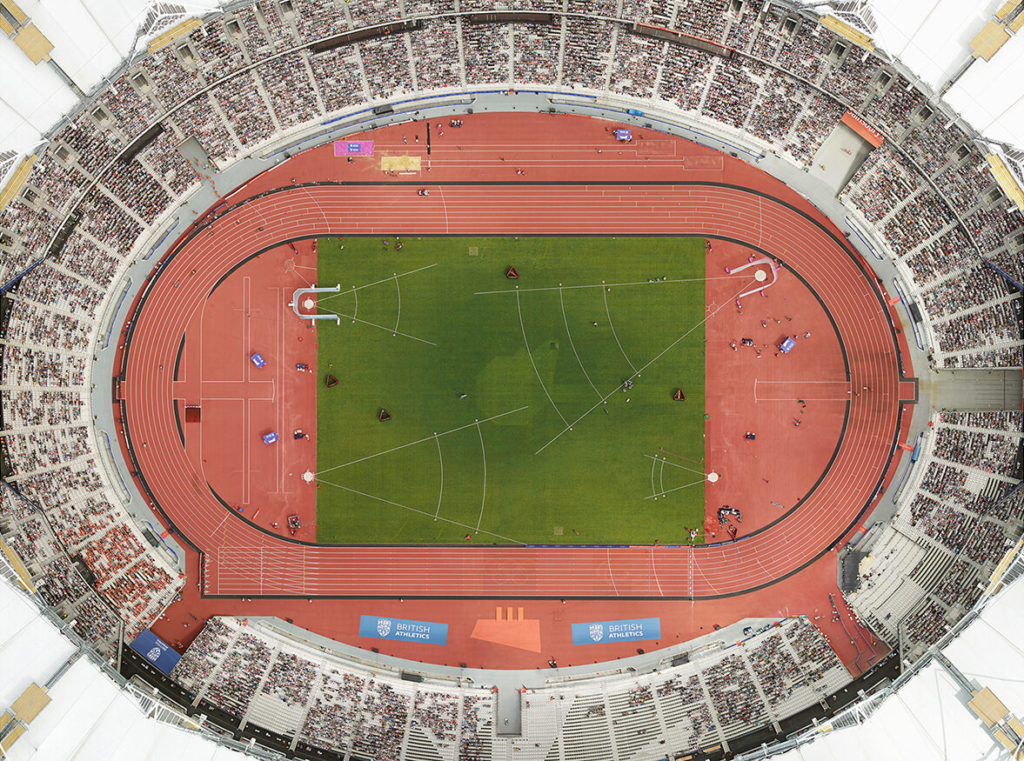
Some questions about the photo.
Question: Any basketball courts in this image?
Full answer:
No, the picture doesn't show any basketball court.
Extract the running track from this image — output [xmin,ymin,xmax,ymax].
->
[110,111,921,670]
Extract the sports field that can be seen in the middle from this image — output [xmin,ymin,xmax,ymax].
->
[315,238,755,545]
